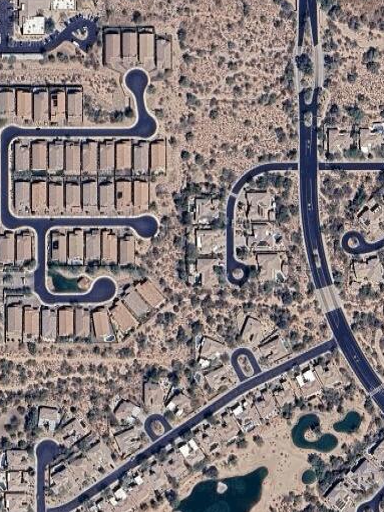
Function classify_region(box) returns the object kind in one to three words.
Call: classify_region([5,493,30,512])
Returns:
house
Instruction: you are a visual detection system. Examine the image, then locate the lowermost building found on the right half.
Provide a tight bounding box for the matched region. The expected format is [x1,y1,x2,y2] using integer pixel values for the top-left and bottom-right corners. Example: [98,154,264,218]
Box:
[325,481,358,512]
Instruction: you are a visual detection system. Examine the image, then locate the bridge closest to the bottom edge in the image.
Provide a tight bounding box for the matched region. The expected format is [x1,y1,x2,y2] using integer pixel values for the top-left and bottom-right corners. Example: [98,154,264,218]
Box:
[315,285,342,318]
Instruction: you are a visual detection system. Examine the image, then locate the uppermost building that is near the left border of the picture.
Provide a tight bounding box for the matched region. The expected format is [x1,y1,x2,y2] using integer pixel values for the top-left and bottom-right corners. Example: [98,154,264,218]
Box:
[19,0,75,34]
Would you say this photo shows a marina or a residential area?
residential area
